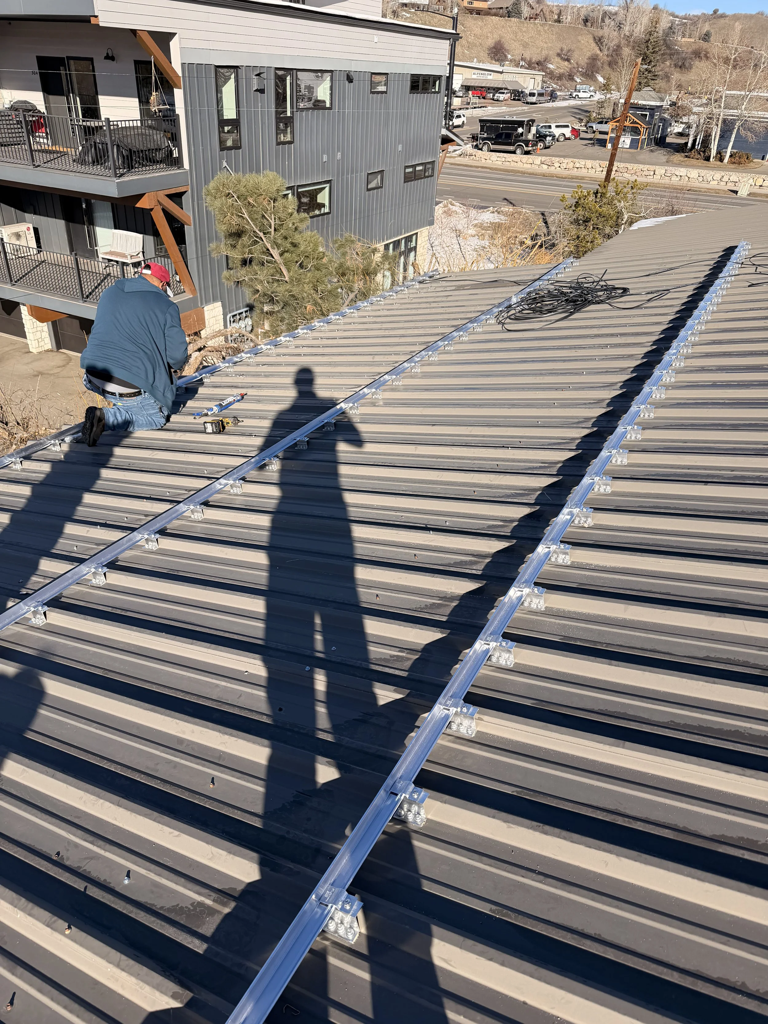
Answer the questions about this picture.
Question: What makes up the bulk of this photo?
buildings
